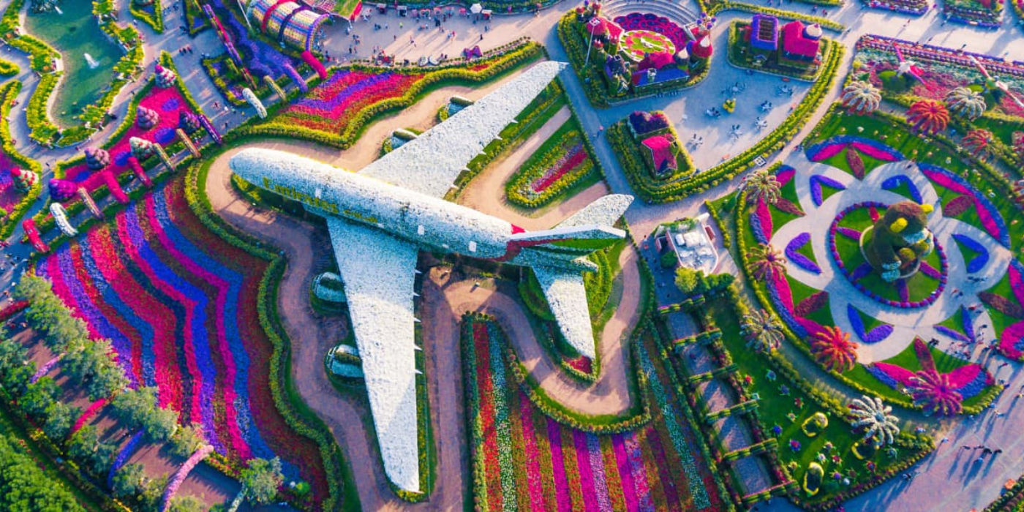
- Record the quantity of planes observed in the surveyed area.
one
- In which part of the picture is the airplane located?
center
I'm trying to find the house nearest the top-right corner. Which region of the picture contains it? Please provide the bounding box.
[775,20,827,75]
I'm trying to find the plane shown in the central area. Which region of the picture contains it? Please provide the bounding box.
[231,60,634,494]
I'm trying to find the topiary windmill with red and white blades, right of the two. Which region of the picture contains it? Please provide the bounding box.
[952,54,1024,108]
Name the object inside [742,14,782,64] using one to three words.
house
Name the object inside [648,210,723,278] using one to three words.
building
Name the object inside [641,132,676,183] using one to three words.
house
